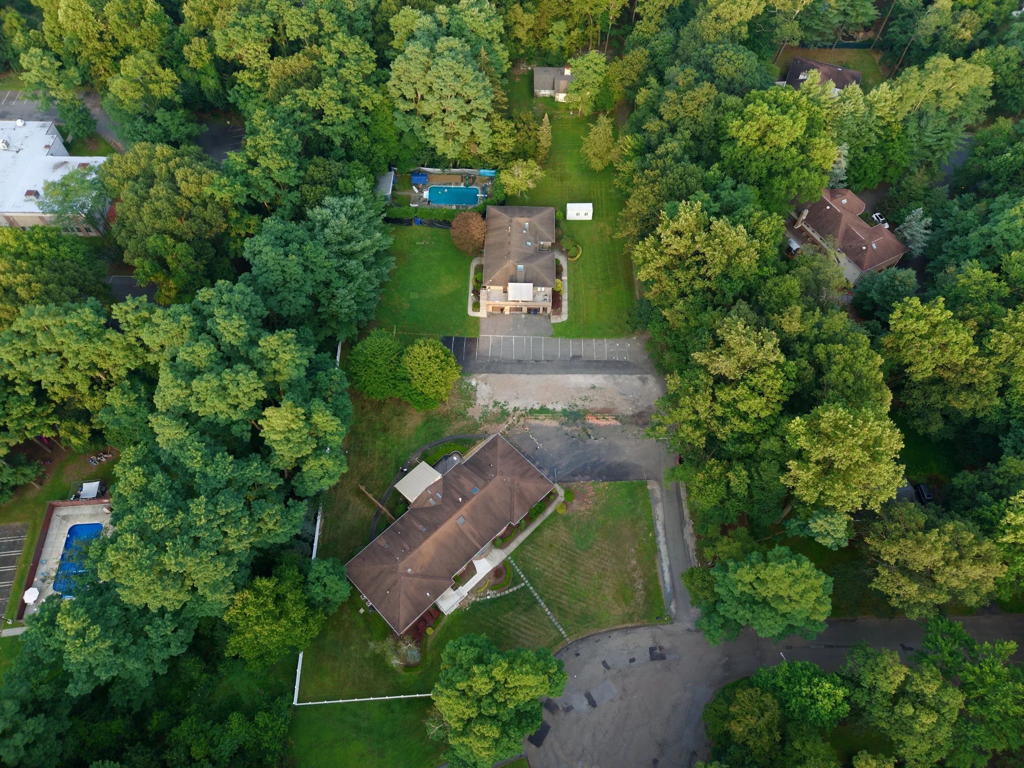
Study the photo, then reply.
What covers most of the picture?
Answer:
trees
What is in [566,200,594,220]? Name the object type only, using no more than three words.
shed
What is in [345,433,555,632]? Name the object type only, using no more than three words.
building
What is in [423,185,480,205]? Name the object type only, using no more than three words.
swimming pool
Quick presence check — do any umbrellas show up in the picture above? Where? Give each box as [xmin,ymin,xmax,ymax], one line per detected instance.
[789,238,800,250]
[20,590,40,608]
